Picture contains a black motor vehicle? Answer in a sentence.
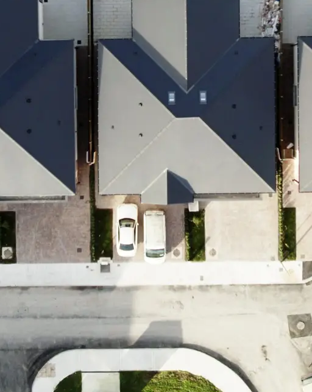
No, there is no black motor vehicle in the image.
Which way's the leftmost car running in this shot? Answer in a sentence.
What the image shows is the leftmost car lying vertically.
